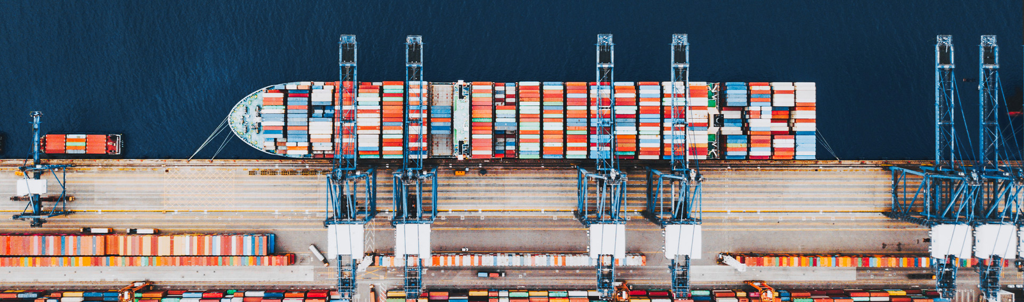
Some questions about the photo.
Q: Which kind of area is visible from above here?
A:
port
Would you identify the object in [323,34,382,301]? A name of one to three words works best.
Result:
container crane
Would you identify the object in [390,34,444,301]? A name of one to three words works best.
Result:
container crane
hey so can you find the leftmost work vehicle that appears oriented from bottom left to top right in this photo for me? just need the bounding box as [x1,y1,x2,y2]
[358,251,377,275]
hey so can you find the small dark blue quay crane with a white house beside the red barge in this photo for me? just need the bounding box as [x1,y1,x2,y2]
[17,110,78,229]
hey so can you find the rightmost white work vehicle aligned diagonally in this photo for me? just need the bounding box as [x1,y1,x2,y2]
[716,255,748,277]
